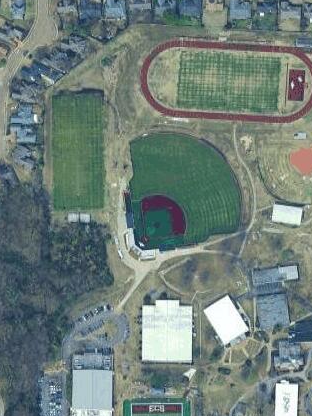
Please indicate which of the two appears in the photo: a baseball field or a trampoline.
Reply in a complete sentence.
Looking from above, you can make out a baseball field.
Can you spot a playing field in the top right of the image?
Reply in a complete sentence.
Yes, a playing field can be seen in the top right of the image.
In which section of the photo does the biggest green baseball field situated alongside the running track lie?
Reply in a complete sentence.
The biggest green baseball field situated alongside the running track appears toward the center of the photo.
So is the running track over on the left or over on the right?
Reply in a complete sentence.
You can find the running track on the right side of the picture.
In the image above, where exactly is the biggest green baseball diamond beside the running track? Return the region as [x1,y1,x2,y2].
[125,132,242,251]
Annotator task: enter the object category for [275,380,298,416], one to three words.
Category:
building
